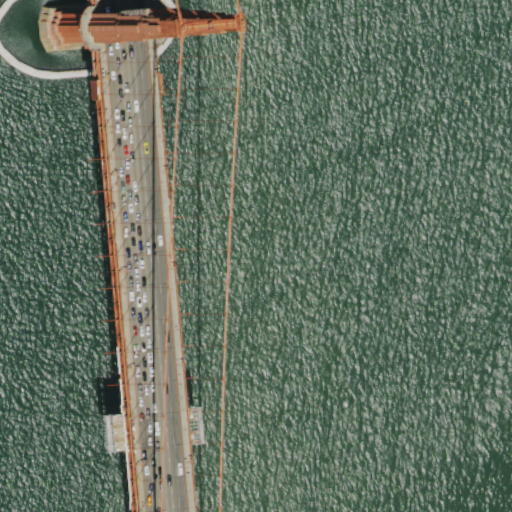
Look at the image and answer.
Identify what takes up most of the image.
water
